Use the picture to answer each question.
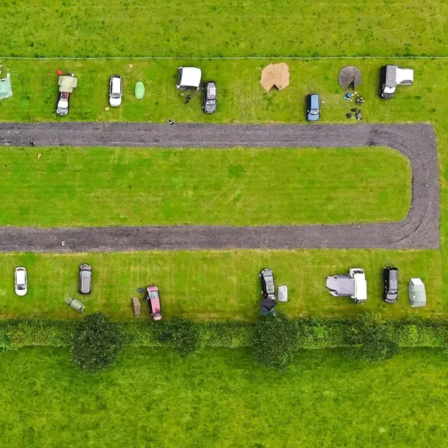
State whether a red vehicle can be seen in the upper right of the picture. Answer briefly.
No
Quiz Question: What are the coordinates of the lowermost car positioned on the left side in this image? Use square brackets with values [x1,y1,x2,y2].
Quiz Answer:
[145,285,162,323]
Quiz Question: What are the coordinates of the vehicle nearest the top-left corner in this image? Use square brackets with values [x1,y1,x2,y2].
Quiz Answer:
[55,86,70,116]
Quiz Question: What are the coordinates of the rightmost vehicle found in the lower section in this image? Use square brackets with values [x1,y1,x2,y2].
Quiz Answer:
[381,267,400,303]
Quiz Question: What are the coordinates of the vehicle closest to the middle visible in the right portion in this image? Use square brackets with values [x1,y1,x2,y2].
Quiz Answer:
[261,269,278,303]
